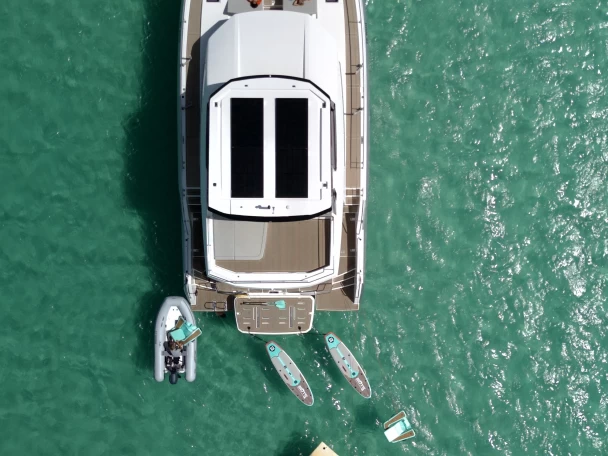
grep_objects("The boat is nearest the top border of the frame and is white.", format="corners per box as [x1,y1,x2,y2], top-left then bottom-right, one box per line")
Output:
[176,0,370,334]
